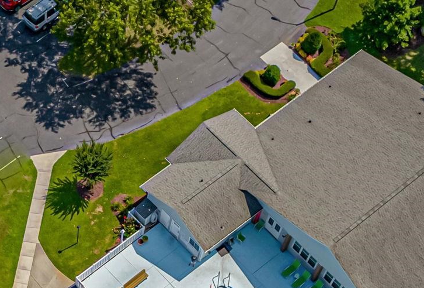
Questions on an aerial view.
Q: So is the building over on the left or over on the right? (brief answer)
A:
right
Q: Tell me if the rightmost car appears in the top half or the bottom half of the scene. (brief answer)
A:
top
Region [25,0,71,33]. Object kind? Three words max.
car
